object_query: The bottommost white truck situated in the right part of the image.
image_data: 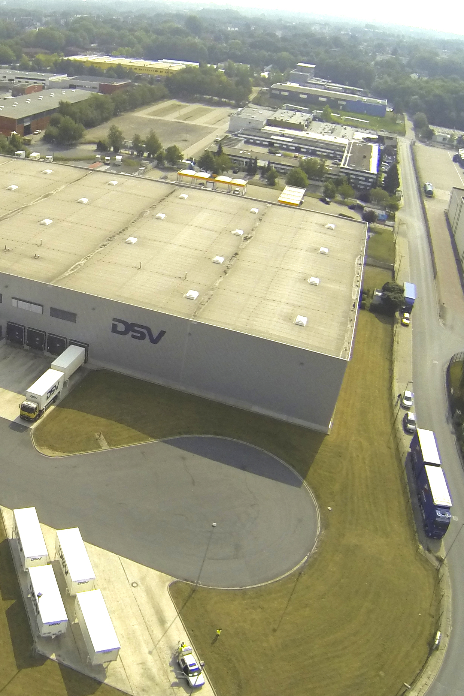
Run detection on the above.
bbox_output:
[418,433,460,540]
